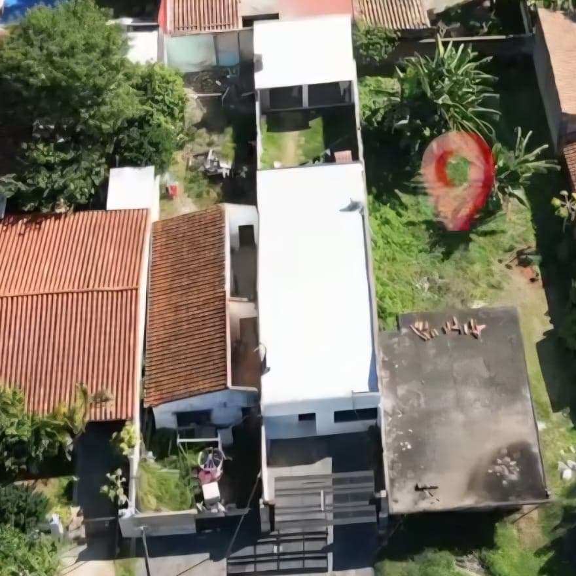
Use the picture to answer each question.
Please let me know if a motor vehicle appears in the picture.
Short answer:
No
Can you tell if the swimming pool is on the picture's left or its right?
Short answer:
left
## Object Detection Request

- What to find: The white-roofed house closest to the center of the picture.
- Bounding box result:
[254,161,388,446]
